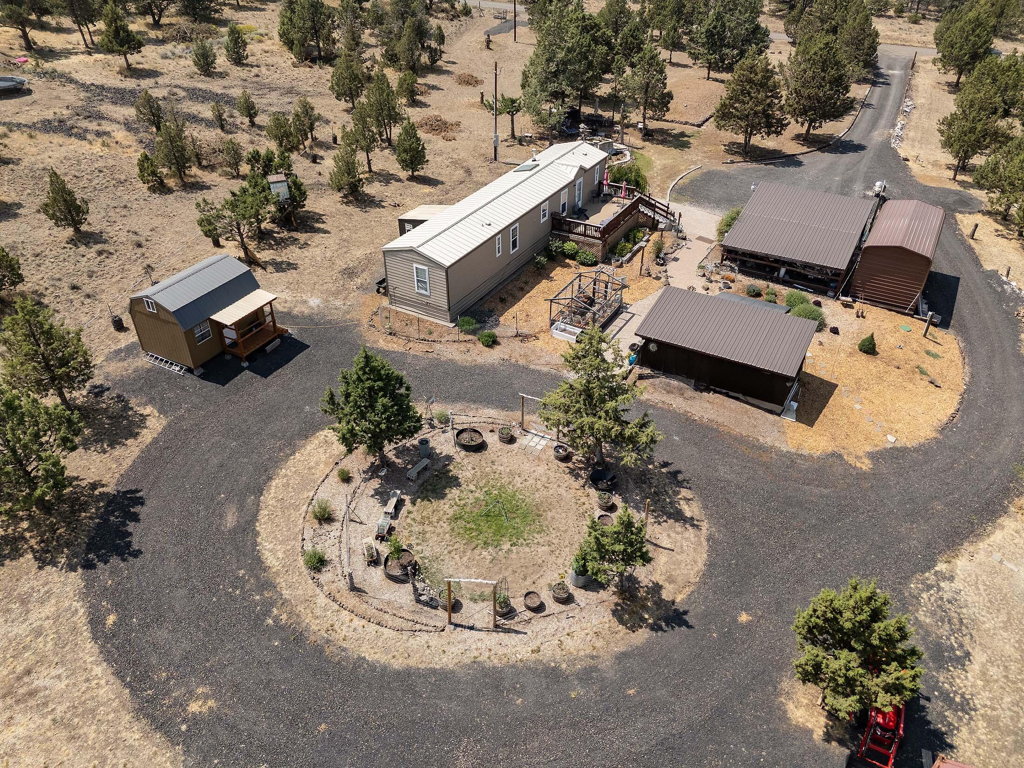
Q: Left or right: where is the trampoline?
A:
left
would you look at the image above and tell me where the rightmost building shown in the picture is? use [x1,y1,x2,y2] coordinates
[846,198,944,327]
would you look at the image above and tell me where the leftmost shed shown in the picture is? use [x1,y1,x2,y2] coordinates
[126,254,293,375]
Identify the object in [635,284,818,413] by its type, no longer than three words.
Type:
shed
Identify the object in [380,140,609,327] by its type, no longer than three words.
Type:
house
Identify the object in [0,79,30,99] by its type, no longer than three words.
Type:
trampoline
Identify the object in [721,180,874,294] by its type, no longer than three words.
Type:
barn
